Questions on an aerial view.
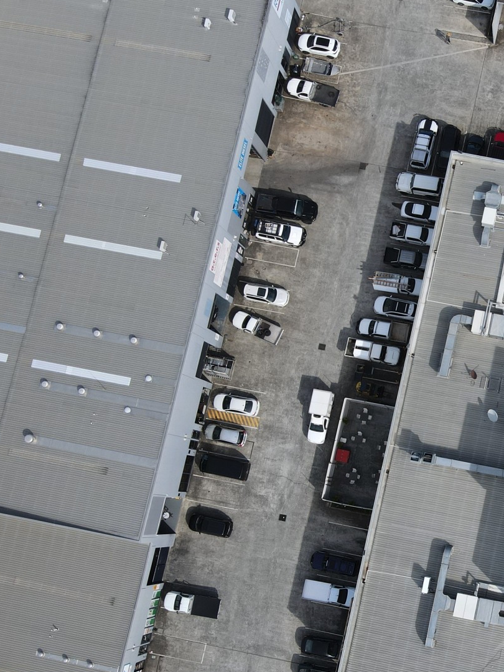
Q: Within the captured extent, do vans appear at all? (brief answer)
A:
Yes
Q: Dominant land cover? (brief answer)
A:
buildings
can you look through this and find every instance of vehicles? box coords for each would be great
[490,132,504,161]
[252,191,321,220]
[287,78,341,109]
[310,551,358,578]
[212,391,262,417]
[453,0,497,13]
[373,295,419,321]
[396,171,444,200]
[163,592,222,618]
[189,511,235,536]
[301,635,345,663]
[461,134,483,156]
[200,452,253,479]
[432,125,460,177]
[408,119,438,171]
[298,30,343,59]
[302,387,336,445]
[253,217,309,247]
[342,337,402,365]
[387,222,434,248]
[368,270,424,300]
[298,662,338,672]
[404,201,439,225]
[243,282,292,307]
[296,579,357,608]
[231,312,285,347]
[382,246,429,271]
[204,423,251,448]
[357,316,414,344]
